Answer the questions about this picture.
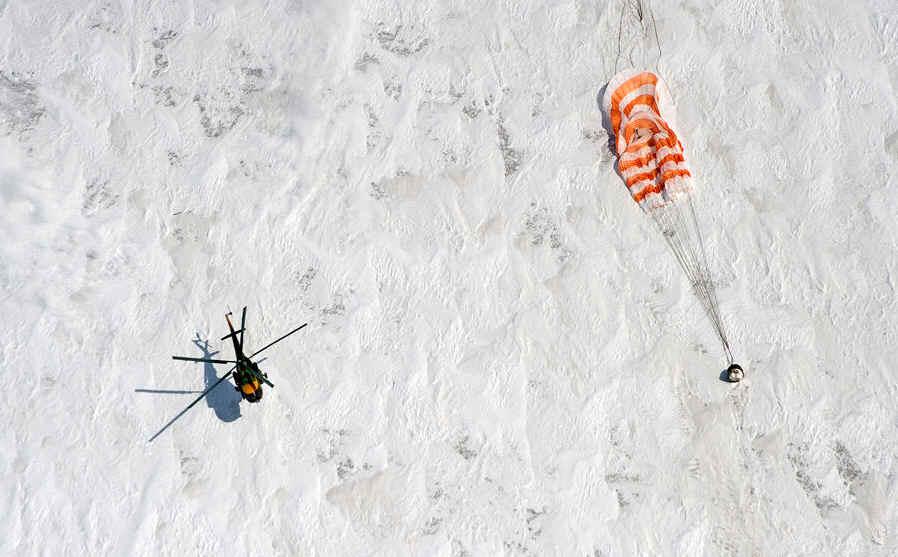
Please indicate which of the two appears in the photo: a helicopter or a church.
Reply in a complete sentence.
The one in the frame is a helicopter.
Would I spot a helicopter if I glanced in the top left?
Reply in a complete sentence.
No, in the top left there is no helicopter.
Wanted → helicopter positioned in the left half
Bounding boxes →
[172,302,308,408]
